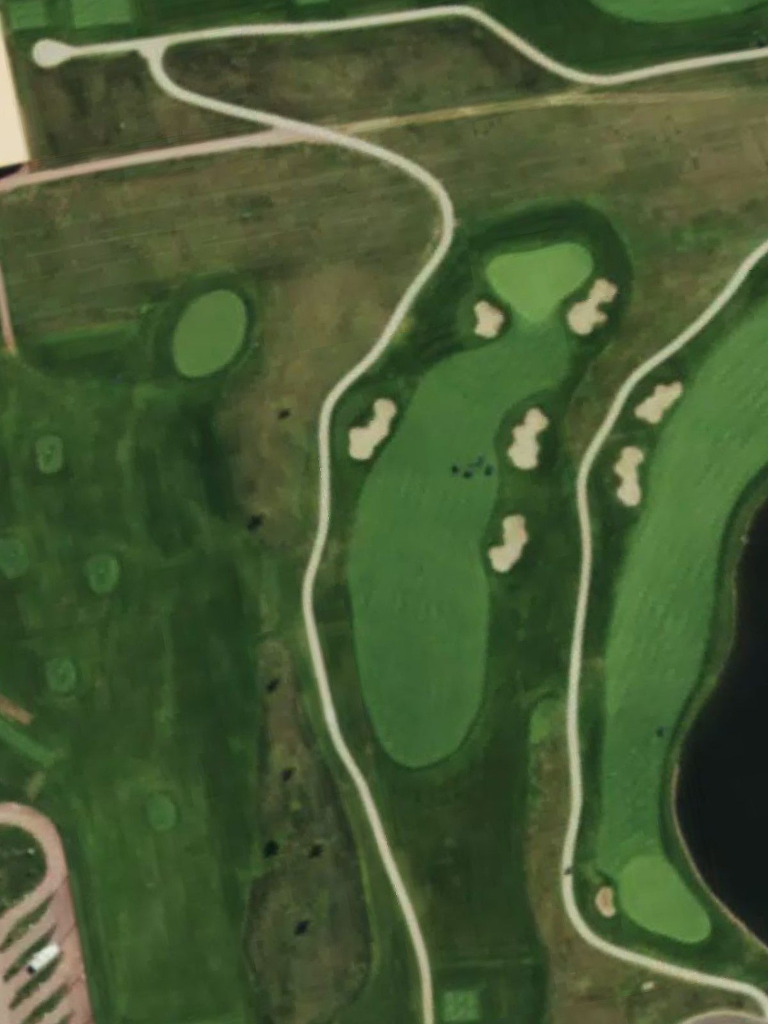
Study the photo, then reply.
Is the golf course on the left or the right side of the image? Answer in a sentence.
The golf course sits on the right side.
